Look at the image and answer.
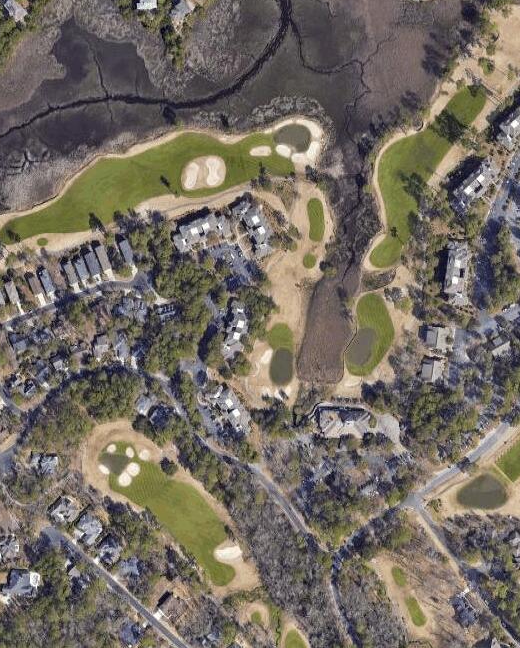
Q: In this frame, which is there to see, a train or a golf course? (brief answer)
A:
golf course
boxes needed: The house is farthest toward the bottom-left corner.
[8,572,39,599]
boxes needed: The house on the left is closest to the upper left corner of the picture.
[1,0,28,23]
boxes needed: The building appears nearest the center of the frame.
[221,301,248,357]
